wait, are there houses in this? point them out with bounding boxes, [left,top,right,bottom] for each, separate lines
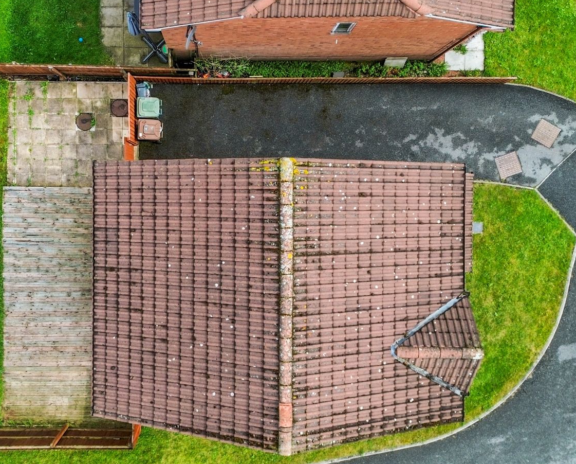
[89,154,486,453]
[138,0,517,64]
